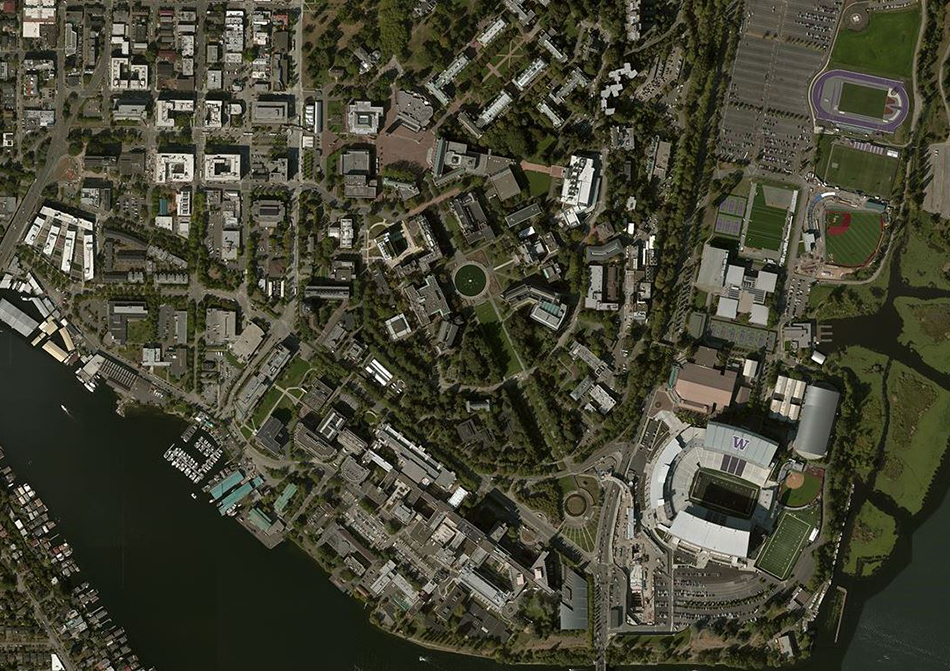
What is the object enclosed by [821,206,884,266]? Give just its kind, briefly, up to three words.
baseball field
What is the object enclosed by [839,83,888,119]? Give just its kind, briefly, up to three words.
sports field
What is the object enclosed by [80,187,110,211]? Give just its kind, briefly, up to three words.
building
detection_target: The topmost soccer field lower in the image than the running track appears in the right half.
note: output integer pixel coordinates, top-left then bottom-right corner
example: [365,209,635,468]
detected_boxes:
[823,143,902,201]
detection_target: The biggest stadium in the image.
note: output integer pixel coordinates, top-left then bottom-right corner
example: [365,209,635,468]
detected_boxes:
[650,421,782,563]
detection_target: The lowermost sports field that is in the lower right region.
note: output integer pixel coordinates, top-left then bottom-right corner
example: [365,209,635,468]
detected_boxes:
[755,511,815,583]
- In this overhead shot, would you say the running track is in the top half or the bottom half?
top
